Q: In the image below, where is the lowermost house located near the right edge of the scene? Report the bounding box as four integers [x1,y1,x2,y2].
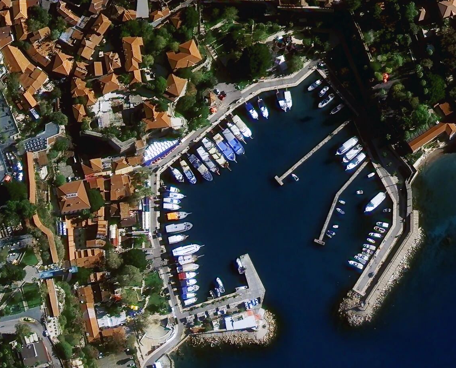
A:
[406,118,456,150]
